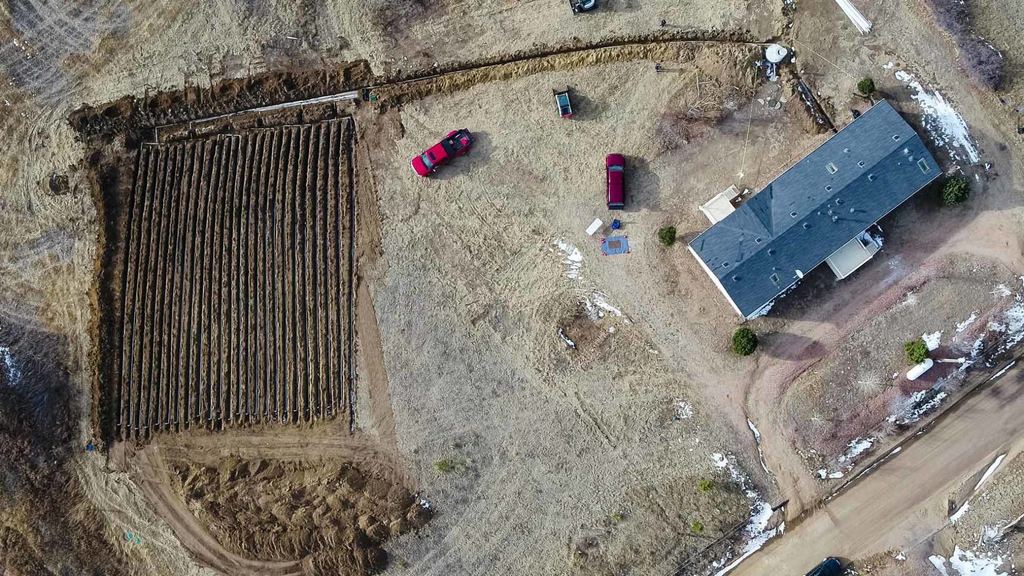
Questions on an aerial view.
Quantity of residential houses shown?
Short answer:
1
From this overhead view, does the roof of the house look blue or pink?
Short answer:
blue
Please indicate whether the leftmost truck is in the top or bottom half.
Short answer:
top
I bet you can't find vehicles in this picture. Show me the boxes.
[569,0,594,22]
[798,557,842,576]
[554,86,574,120]
[605,154,628,210]
[410,127,475,175]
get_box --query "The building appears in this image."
[685,97,942,319]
